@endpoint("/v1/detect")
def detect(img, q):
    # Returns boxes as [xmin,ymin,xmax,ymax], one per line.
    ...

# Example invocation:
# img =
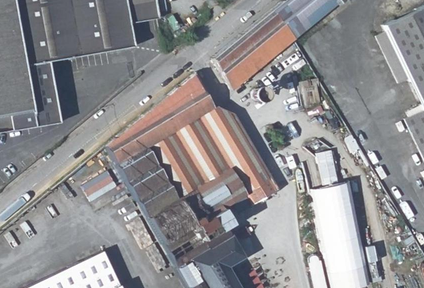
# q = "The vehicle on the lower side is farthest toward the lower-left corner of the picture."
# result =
[4,230,18,248]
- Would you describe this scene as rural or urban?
urban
